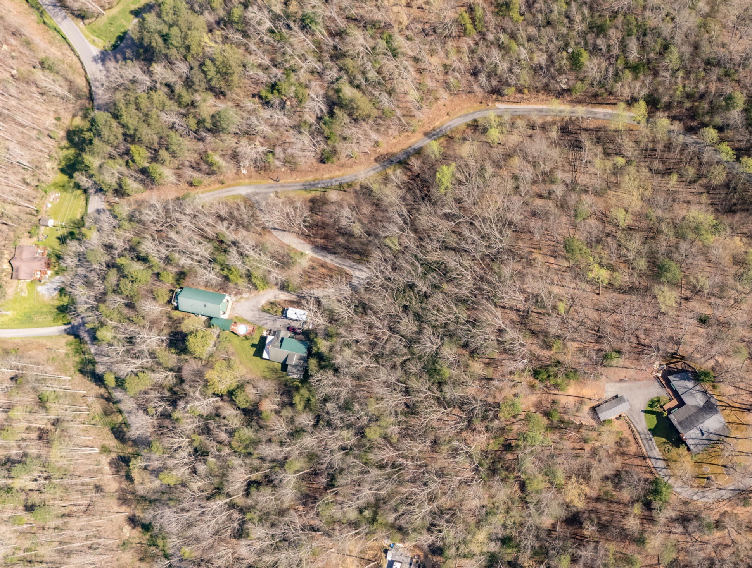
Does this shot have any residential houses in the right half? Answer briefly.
Yes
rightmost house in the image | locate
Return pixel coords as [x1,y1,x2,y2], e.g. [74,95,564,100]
[658,362,730,453]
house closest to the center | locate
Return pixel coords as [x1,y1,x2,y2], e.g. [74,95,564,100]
[262,329,310,379]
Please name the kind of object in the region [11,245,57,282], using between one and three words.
house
